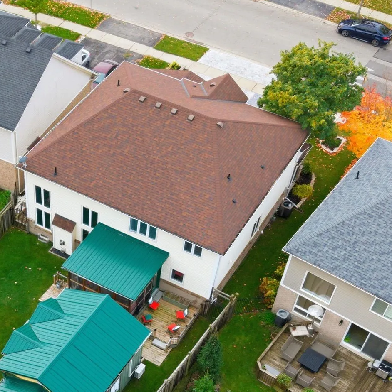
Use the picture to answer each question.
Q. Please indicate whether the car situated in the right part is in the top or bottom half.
top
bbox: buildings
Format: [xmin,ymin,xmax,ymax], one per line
[0,287,152,392]
[14,63,311,304]
[274,143,392,360]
